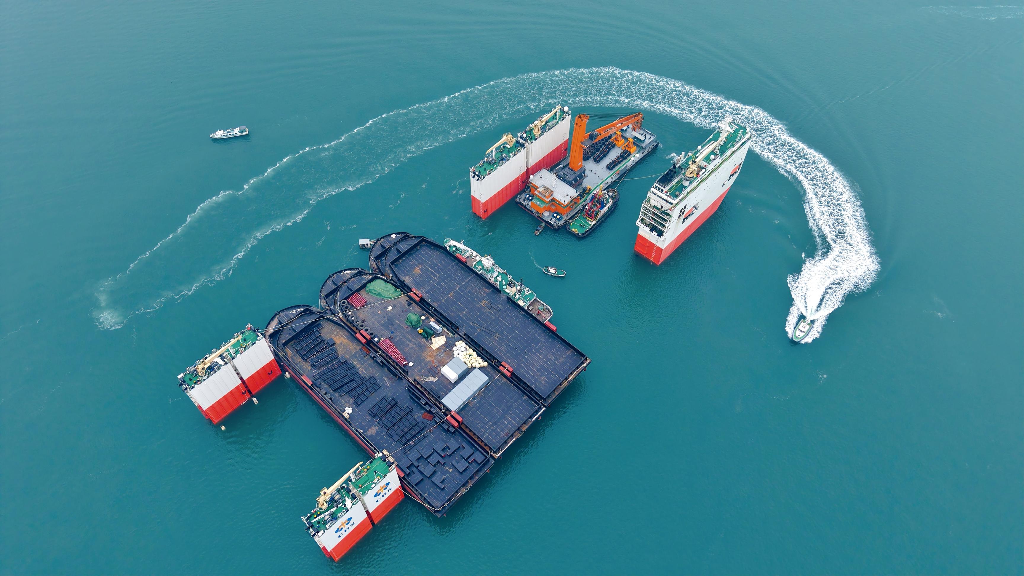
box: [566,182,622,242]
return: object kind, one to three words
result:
boat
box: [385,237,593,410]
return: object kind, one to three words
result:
ship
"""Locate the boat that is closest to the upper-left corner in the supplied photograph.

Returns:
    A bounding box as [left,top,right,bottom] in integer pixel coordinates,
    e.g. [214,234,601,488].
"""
[208,125,248,138]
